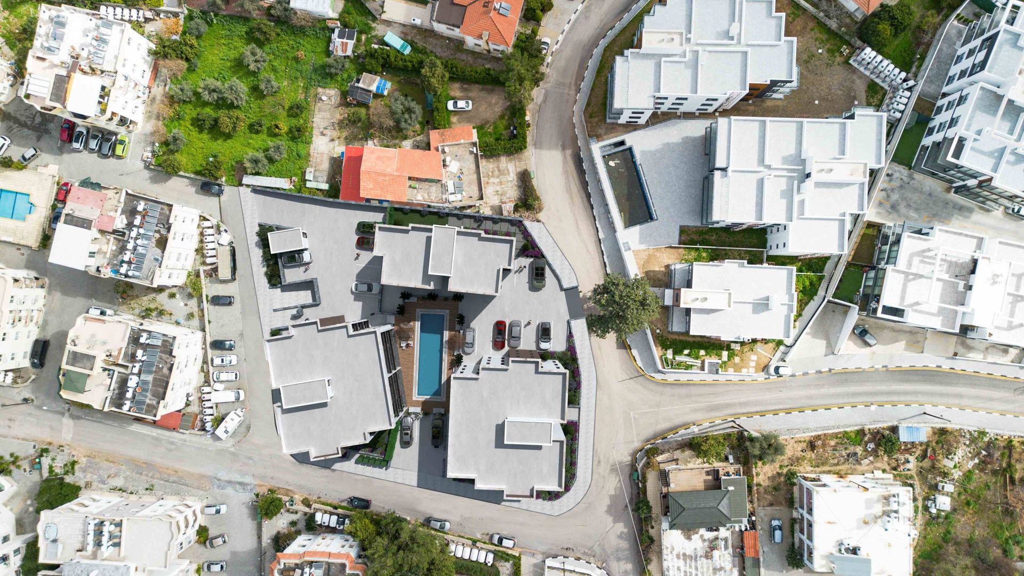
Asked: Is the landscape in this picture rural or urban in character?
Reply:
urban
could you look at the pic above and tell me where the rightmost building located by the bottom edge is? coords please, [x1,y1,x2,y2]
[795,468,914,576]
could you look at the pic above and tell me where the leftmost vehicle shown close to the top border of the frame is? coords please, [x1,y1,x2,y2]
[381,28,412,55]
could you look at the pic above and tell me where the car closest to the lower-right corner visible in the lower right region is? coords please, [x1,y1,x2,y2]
[769,518,783,543]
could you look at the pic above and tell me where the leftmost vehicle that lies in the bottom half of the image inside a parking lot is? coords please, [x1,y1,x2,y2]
[28,337,53,370]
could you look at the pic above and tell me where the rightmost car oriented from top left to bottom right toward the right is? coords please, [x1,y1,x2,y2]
[852,324,879,349]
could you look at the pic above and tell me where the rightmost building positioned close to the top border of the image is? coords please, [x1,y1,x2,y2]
[901,0,1024,214]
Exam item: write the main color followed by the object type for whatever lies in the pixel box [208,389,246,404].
white vehicle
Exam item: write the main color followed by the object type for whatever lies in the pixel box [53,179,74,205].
red car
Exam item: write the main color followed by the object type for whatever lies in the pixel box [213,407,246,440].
white camper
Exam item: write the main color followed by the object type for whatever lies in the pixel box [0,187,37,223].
blue swimming pool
